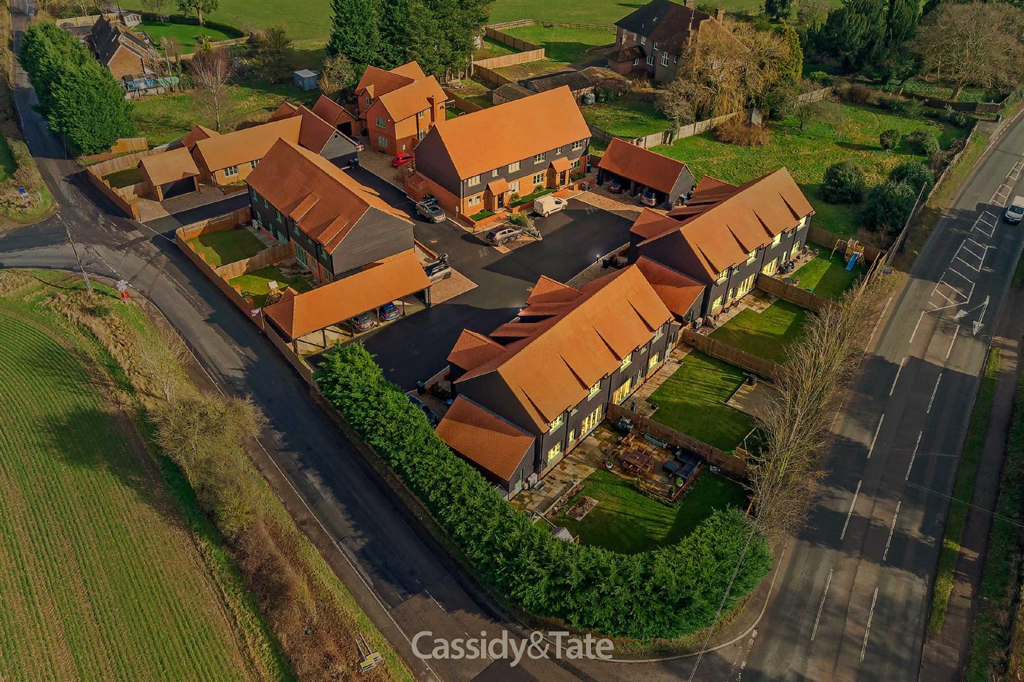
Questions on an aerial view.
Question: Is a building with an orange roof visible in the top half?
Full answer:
Yes, in the top half there is a building with an orange roof.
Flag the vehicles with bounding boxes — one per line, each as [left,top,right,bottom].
[606,175,631,195]
[385,151,416,169]
[638,186,662,208]
[423,252,460,283]
[532,193,570,218]
[354,139,372,157]
[345,312,377,338]
[483,226,525,250]
[418,197,446,225]
[1005,190,1024,222]
[372,302,403,326]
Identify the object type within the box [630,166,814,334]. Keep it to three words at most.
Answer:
house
